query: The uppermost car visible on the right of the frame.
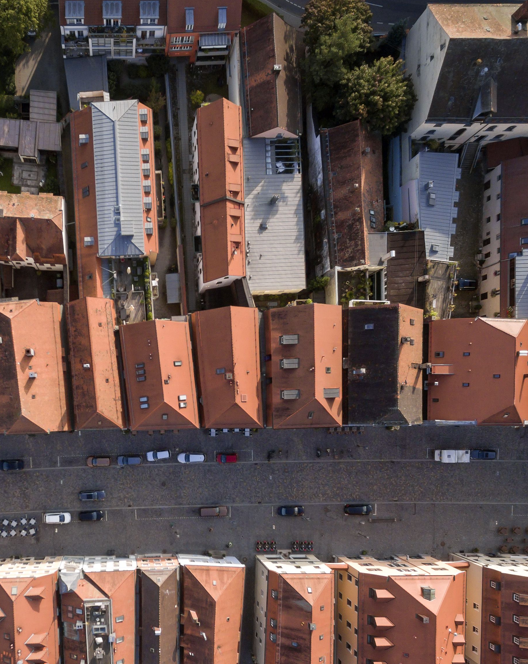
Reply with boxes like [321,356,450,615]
[453,277,477,290]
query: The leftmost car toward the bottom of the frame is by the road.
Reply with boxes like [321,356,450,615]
[0,458,26,472]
